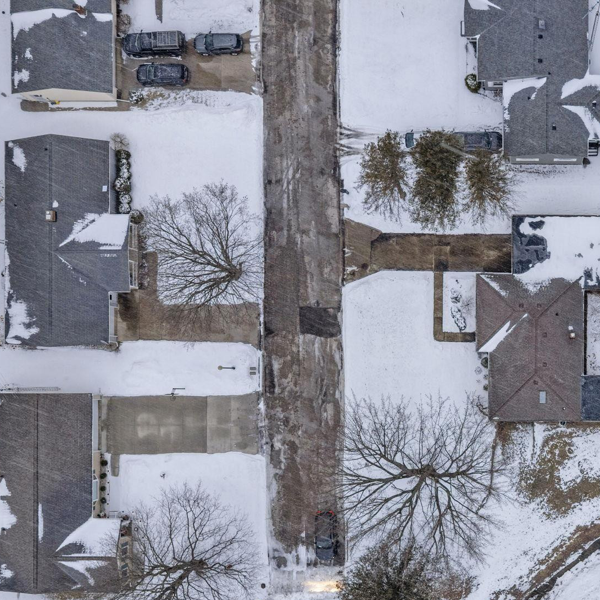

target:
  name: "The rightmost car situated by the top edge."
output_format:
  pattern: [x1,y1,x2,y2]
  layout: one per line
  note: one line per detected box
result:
[192,27,241,54]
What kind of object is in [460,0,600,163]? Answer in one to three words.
house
